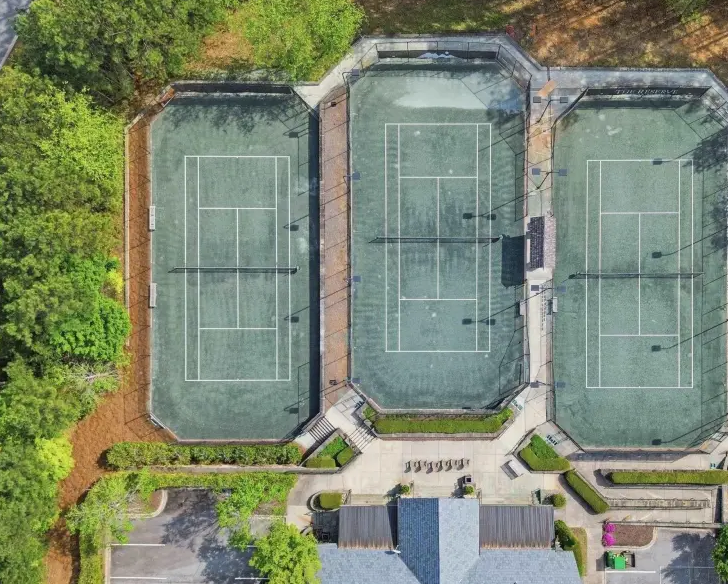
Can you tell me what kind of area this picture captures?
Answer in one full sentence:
The picture captures a sports ground.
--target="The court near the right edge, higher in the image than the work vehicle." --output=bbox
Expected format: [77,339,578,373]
[553,97,728,447]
